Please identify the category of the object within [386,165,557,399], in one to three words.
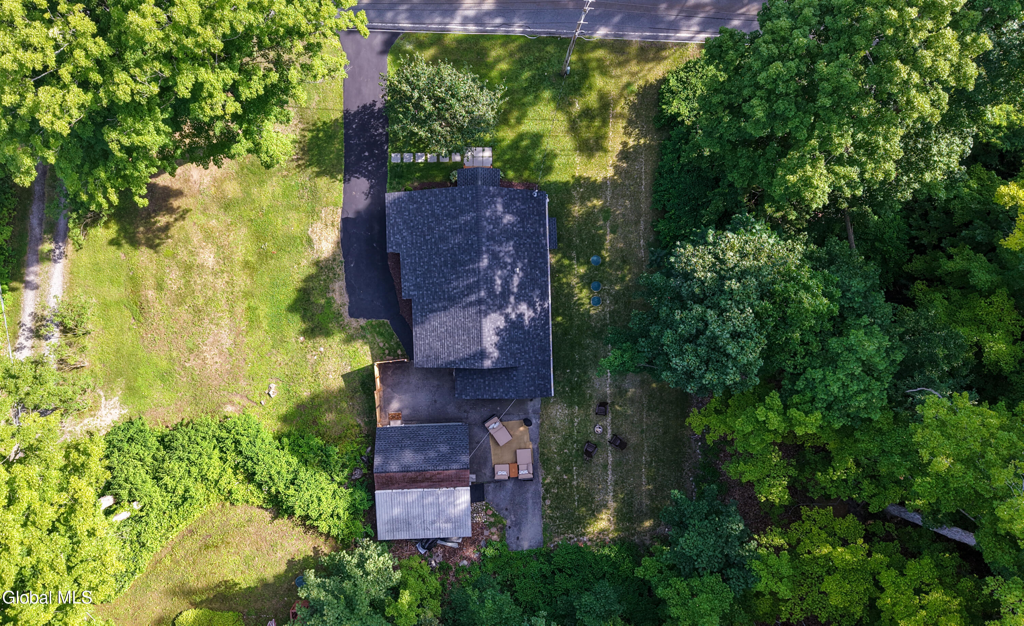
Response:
house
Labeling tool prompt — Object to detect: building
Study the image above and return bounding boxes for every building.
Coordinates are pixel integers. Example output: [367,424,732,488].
[373,422,471,540]
[386,165,557,399]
